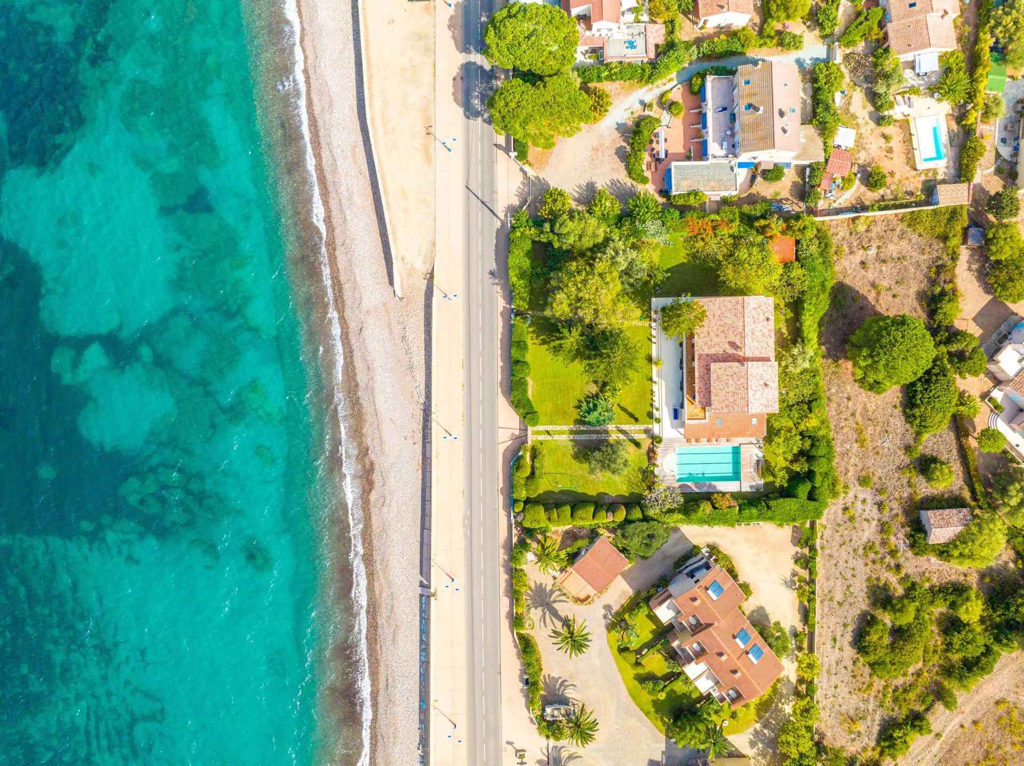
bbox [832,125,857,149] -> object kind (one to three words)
umbrella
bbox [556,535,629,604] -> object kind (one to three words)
house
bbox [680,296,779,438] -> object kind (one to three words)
house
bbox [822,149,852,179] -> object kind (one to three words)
shed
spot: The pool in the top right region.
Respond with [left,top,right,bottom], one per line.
[910,110,951,170]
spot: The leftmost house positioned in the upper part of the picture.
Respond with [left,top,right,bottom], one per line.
[570,0,665,65]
